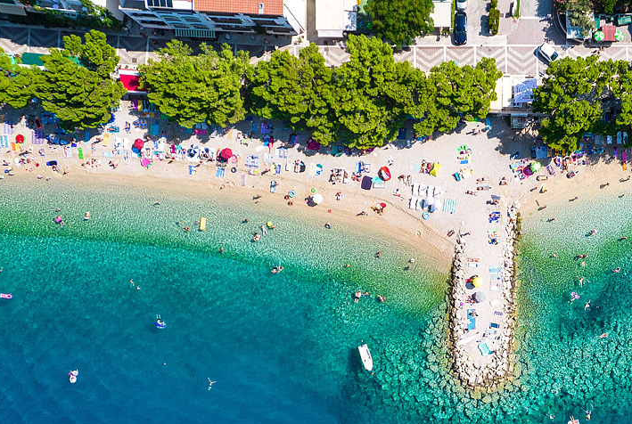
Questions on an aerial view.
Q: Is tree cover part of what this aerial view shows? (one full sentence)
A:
Yes, tree cover shows up in the scene.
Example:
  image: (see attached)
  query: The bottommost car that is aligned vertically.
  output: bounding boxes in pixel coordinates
[451,8,468,44]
